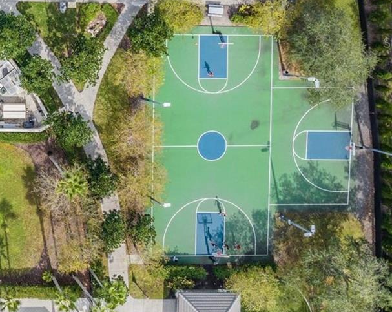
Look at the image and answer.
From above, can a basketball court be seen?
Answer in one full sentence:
Yes, I can see a basketball court in this picture.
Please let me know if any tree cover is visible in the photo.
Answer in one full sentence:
Yes, there's tree cover in this view.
